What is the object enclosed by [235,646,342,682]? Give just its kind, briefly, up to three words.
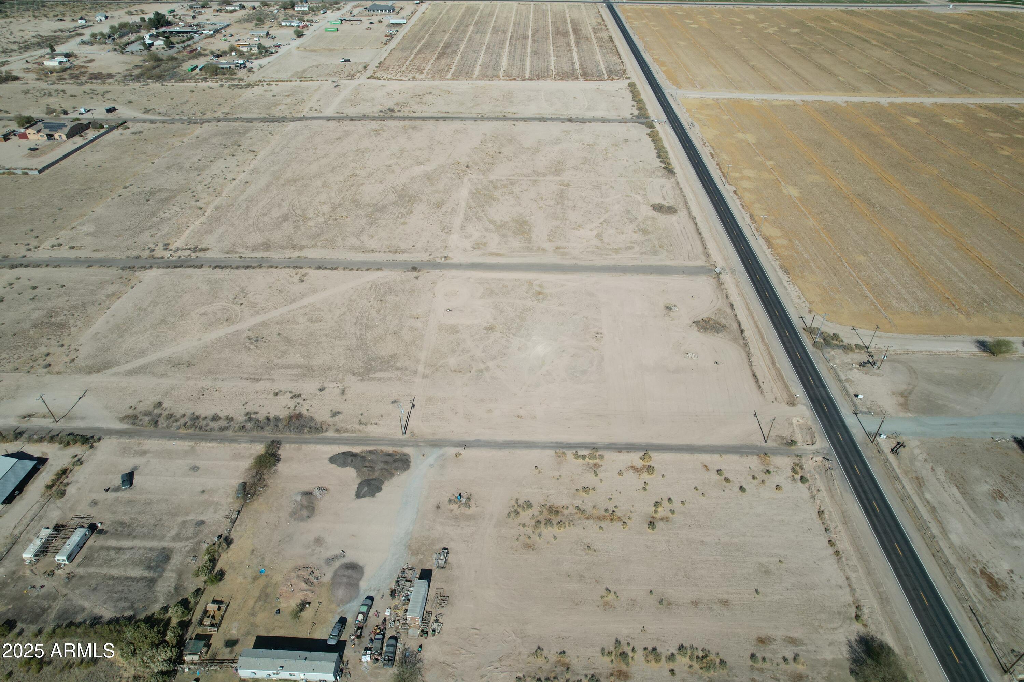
house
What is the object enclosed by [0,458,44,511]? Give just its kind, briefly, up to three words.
barn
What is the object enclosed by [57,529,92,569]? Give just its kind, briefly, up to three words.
trailer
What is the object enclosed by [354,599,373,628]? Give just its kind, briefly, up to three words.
vehicle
